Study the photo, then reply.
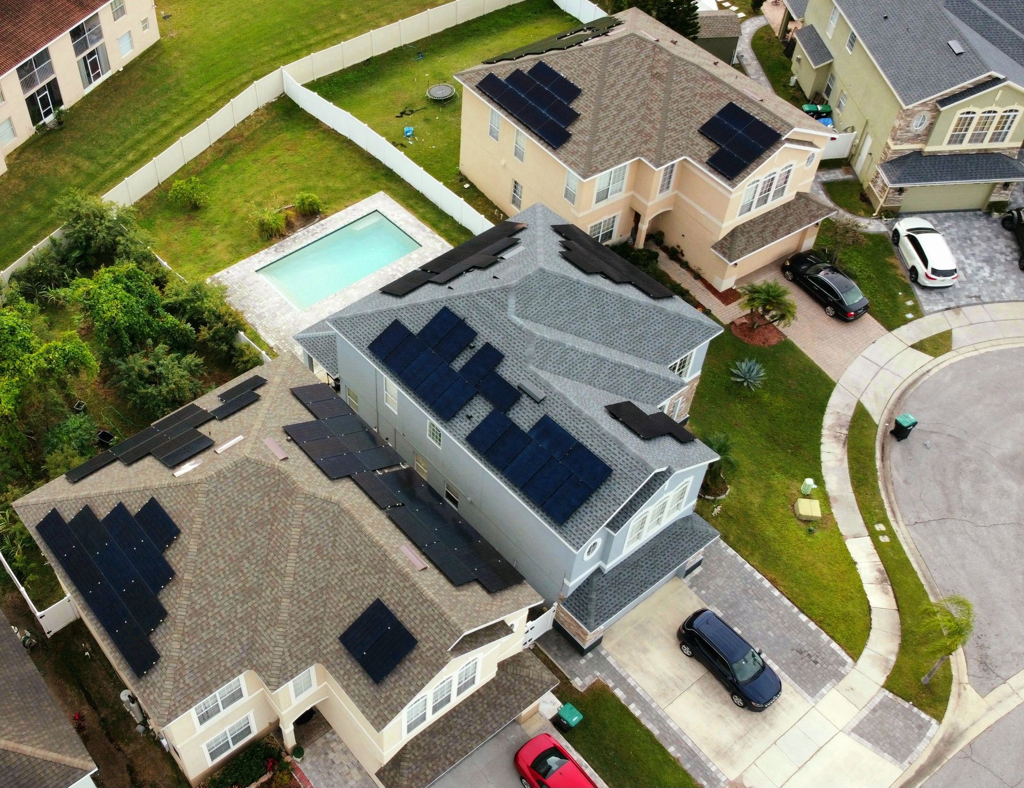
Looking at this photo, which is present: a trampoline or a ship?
trampoline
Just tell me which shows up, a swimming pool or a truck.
swimming pool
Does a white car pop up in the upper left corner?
No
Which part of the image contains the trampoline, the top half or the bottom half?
top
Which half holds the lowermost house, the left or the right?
left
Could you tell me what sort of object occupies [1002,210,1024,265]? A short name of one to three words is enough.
car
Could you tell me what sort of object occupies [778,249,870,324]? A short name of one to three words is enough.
car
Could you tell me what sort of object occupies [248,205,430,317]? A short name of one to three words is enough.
swimming pool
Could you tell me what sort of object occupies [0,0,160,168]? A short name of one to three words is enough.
building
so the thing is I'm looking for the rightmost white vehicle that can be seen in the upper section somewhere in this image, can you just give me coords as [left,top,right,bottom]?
[892,218,957,290]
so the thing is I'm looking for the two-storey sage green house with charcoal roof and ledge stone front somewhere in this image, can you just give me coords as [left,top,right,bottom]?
[781,0,1024,217]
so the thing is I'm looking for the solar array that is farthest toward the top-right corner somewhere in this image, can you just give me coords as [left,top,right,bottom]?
[700,103,779,178]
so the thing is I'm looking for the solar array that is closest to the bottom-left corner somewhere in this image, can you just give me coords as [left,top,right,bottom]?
[32,499,180,678]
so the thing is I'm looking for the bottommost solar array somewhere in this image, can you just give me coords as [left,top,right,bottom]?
[339,601,416,684]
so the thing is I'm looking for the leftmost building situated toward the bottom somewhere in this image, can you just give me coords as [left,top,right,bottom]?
[0,621,101,788]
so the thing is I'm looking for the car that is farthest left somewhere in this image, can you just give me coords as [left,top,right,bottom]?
[510,732,603,788]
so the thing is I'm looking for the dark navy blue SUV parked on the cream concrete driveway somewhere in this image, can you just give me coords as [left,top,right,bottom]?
[672,606,783,717]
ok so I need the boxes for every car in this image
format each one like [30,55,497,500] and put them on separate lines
[510,732,603,788]
[778,249,870,324]
[1002,210,1024,265]
[672,606,783,717]
[892,218,957,290]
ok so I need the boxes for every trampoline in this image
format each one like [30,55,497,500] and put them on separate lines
[426,74,457,108]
